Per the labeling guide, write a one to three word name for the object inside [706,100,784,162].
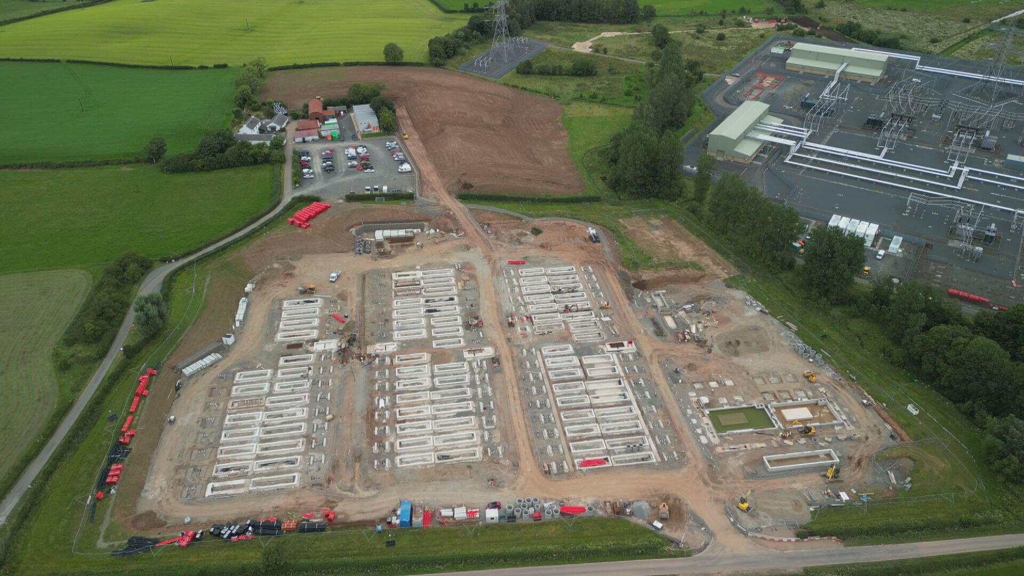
building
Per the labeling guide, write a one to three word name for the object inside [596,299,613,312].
vehicle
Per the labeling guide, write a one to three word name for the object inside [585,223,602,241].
work vehicle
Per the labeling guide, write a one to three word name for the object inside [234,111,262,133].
house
